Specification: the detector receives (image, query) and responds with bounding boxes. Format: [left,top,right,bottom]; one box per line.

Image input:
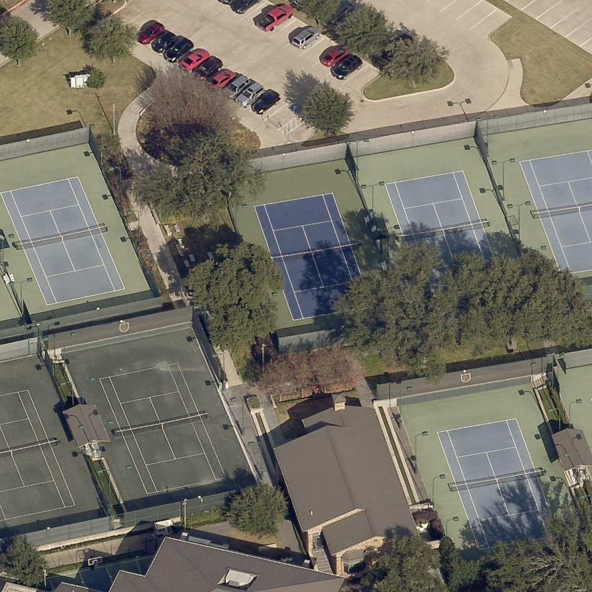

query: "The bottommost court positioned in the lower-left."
[43,552,157,592]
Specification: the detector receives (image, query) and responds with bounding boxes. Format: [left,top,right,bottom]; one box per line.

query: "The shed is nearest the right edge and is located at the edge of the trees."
[551,427,592,496]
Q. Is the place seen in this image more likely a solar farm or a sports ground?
sports ground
